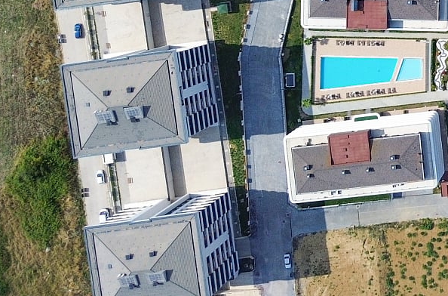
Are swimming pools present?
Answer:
Yes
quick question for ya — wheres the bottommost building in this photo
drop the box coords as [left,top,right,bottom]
[85,192,239,296]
